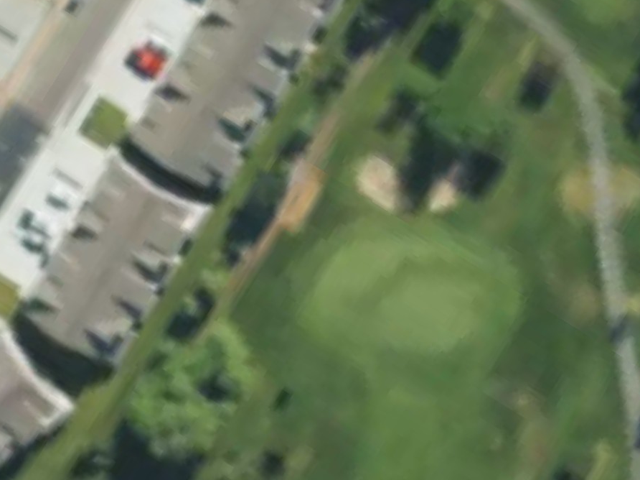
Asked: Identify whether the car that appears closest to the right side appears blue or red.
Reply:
red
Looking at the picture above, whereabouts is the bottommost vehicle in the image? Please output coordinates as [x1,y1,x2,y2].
[18,214,59,246]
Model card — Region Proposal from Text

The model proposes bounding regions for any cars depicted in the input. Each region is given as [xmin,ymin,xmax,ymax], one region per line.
[66,0,85,11]
[18,214,59,246]
[128,43,167,76]
[44,177,81,207]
